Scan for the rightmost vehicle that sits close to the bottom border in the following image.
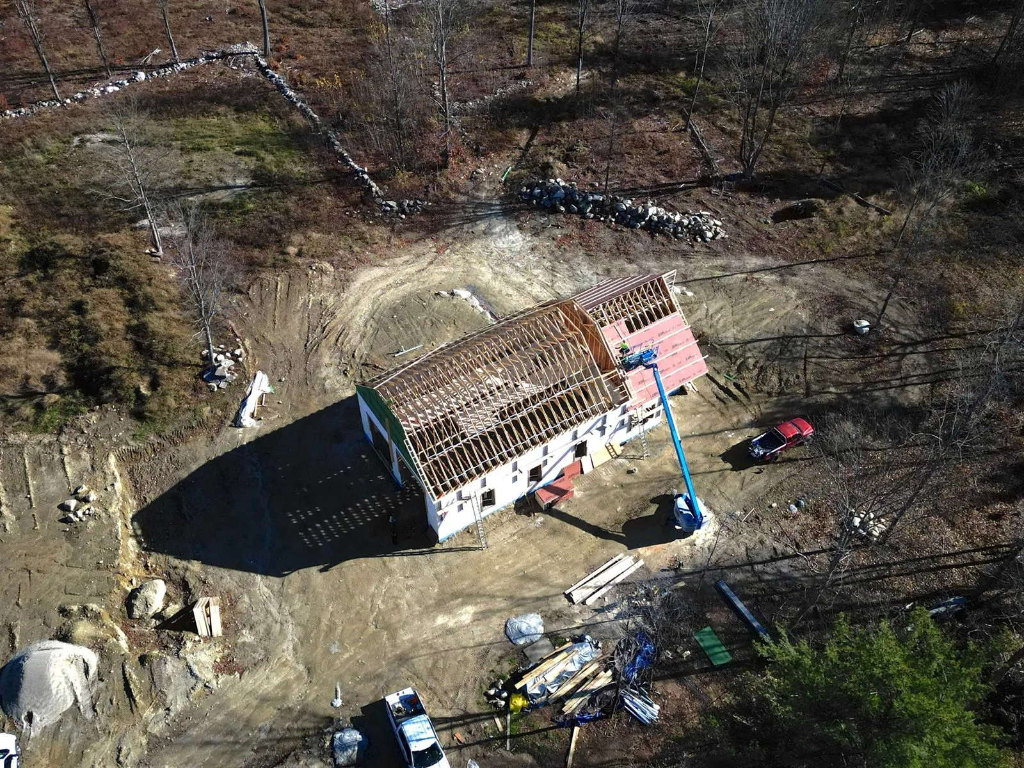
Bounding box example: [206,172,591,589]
[381,681,446,768]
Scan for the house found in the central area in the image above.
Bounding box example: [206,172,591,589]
[353,272,713,543]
